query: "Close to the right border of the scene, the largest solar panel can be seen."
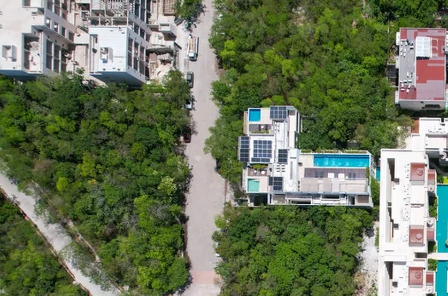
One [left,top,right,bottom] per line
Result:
[416,37,430,57]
